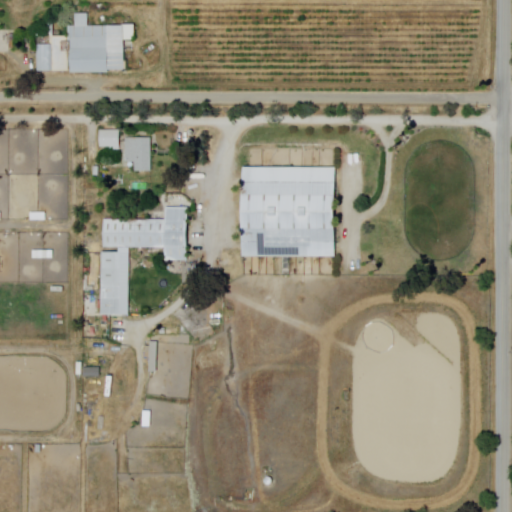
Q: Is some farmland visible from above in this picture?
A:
Yes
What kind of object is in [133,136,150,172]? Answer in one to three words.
house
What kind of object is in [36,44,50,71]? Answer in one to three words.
shed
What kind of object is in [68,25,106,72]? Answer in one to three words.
shed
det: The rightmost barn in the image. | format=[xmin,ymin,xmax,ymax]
[240,166,336,256]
